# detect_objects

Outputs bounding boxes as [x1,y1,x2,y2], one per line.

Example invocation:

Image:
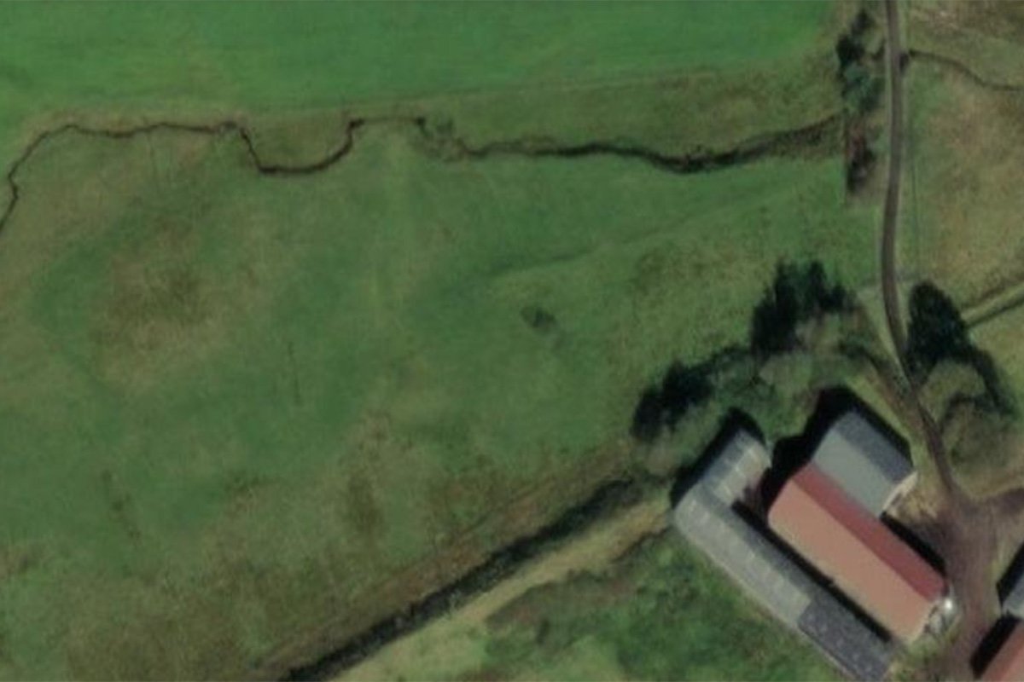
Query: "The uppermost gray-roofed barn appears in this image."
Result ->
[811,414,918,519]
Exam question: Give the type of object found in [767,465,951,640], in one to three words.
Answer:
barn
